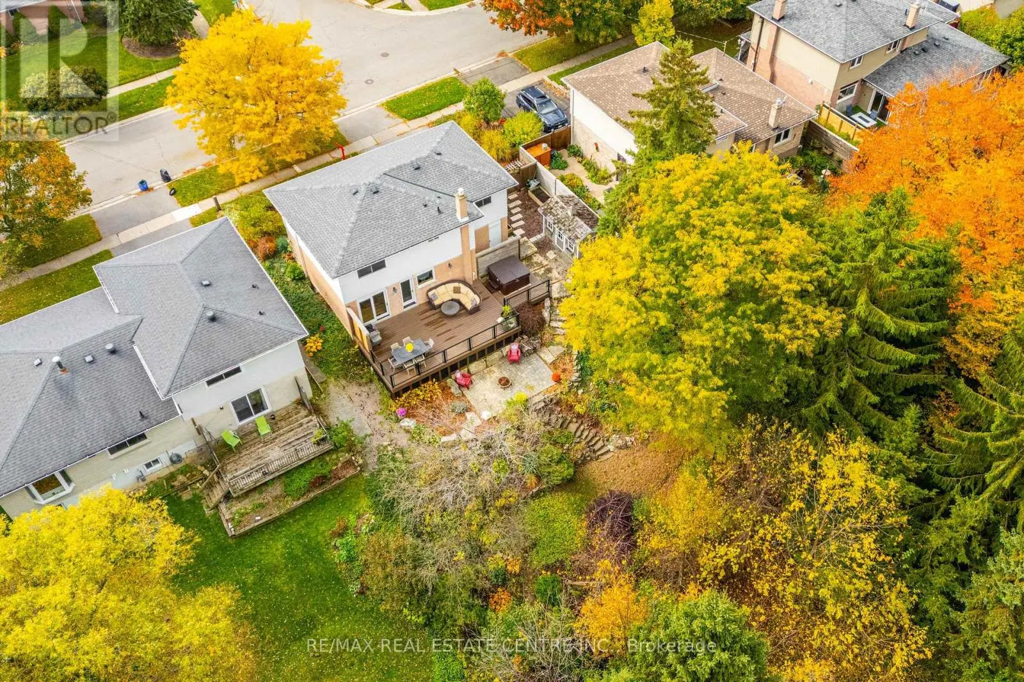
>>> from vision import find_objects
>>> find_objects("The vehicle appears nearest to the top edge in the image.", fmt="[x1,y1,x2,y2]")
[522,85,566,129]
